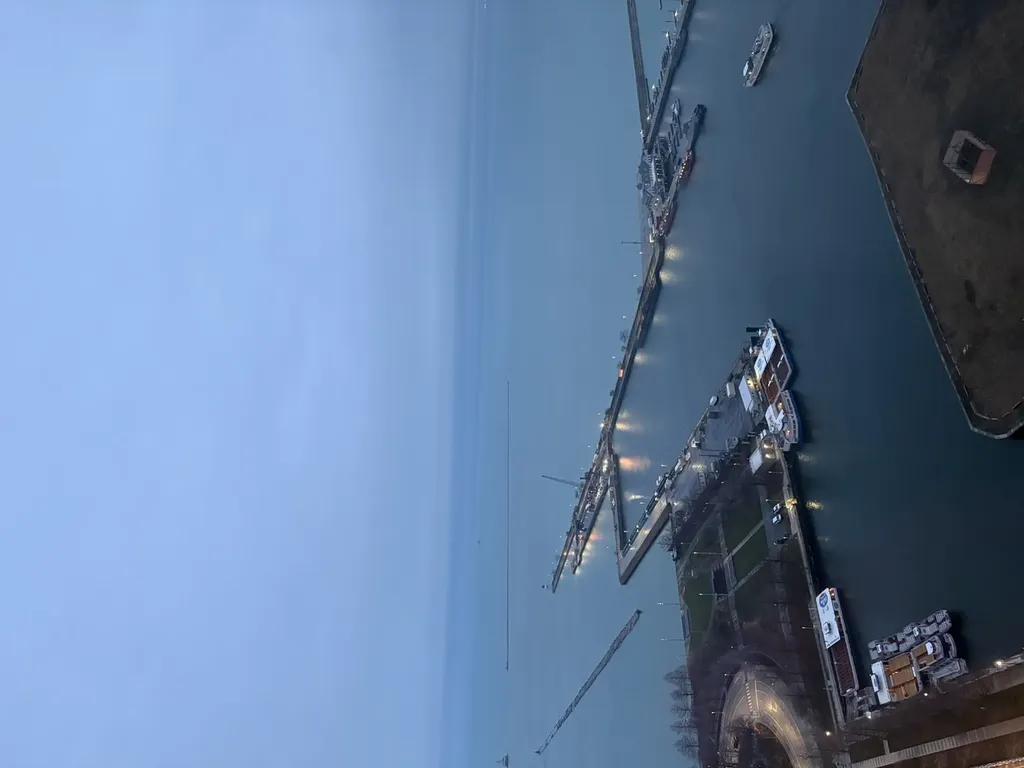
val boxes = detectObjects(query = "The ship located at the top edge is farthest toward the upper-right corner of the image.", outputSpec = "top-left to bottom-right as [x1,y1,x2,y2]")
[738,22,773,89]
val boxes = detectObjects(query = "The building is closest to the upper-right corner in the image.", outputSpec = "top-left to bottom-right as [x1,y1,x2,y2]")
[940,136,998,184]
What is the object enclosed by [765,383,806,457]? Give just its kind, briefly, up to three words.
boat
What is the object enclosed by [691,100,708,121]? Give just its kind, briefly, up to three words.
boat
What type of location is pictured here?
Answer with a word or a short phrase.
port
